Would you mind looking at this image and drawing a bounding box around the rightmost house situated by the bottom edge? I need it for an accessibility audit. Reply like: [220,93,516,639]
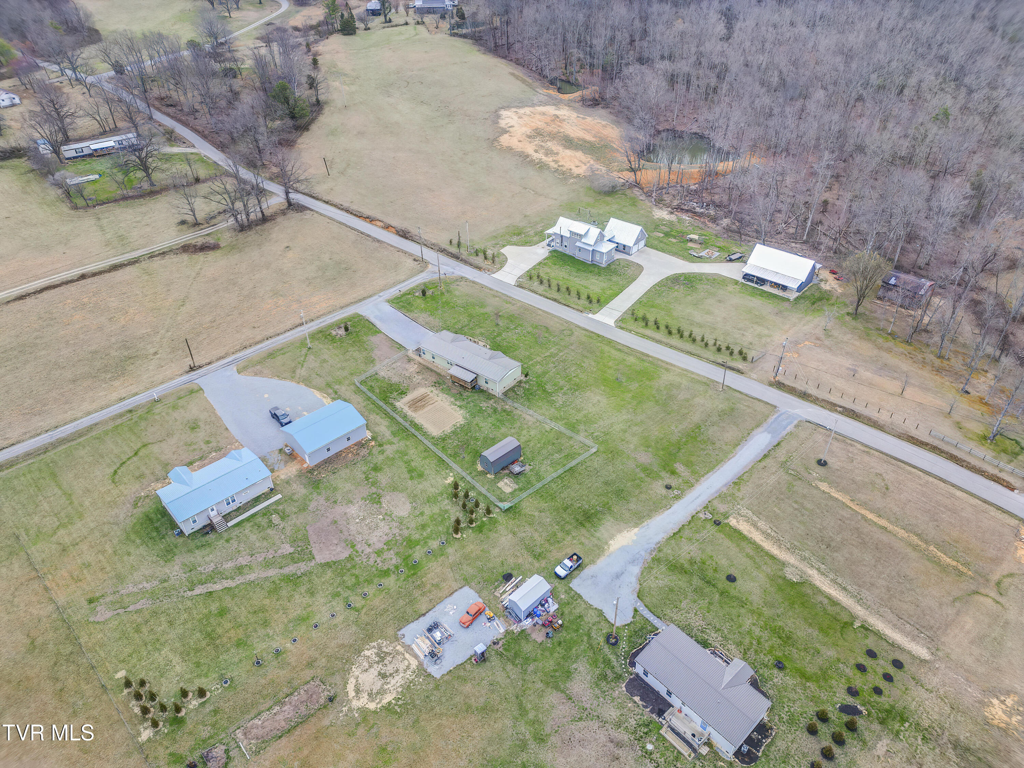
[631,624,772,758]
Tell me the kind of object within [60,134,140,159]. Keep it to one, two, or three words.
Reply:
house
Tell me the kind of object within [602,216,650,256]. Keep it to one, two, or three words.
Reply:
building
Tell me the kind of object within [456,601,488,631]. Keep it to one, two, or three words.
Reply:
car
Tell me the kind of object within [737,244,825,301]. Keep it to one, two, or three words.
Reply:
barn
